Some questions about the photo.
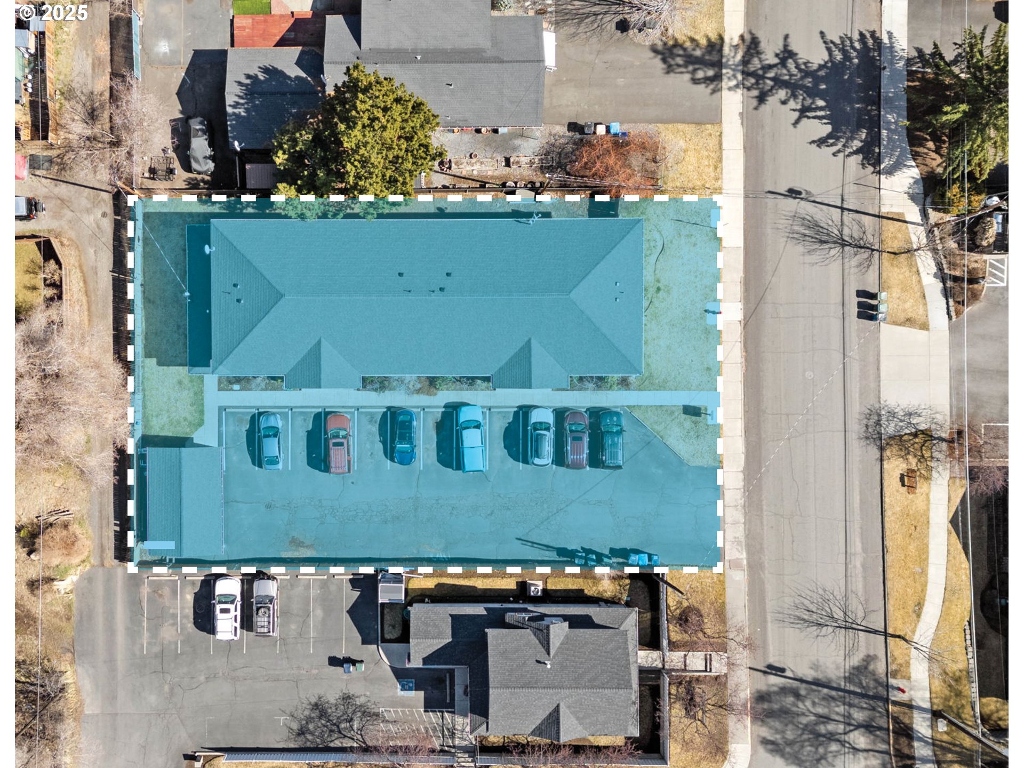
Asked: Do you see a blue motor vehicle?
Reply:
Yes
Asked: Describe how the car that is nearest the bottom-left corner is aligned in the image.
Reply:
vertically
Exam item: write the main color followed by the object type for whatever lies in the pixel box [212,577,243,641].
white car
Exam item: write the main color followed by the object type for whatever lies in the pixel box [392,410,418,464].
blue car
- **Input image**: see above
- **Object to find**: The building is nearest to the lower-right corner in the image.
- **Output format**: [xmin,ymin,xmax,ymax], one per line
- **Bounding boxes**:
[408,600,640,743]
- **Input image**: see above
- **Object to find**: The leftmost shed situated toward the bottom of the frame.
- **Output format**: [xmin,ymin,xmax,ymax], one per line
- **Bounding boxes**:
[146,447,228,558]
